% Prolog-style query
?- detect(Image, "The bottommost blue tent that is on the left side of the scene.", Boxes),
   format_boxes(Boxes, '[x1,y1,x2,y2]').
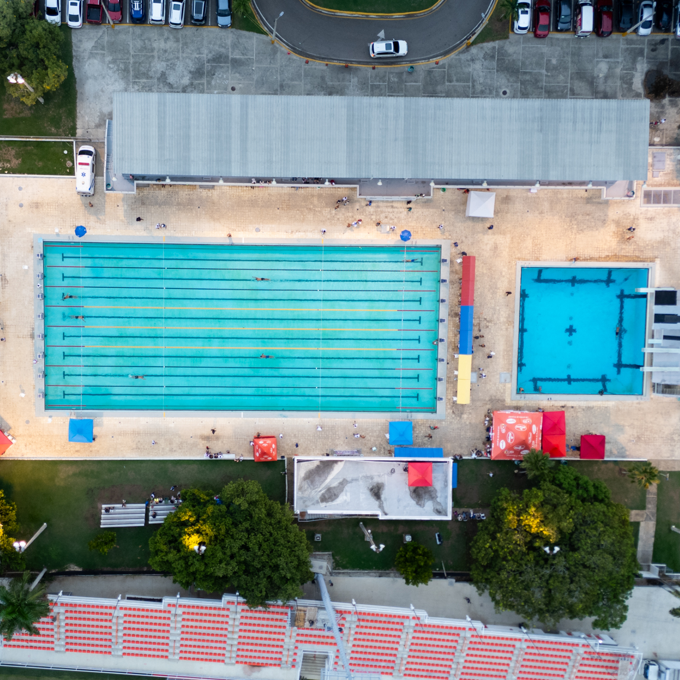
[69,417,96,442]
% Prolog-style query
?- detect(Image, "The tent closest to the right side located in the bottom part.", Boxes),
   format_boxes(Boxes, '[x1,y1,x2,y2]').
[573,433,606,459]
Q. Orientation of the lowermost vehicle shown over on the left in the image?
up and down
